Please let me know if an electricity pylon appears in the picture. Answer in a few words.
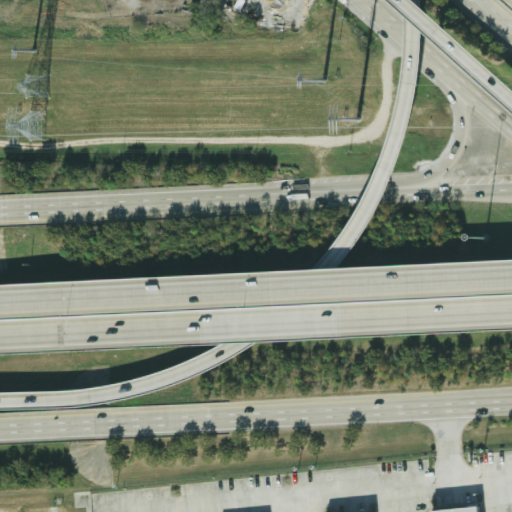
Yes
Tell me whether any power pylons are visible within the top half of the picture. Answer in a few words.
Yes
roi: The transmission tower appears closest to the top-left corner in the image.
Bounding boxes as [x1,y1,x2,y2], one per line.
[17,75,52,100]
